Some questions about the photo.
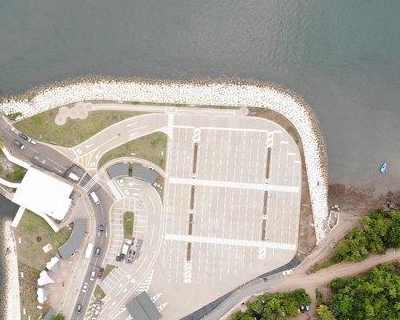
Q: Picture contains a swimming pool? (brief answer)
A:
No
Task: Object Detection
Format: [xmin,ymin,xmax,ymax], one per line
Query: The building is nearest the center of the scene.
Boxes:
[132,164,159,183]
